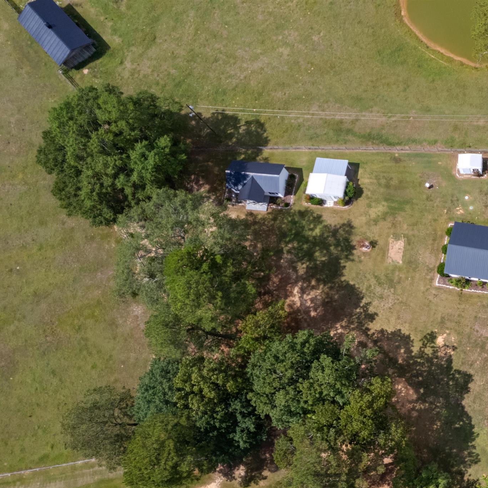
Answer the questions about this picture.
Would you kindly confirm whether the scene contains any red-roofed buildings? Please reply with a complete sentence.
No, the picture doesn't show any red-roofed building.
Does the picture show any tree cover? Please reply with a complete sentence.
Yes, the picture does contain tree cover.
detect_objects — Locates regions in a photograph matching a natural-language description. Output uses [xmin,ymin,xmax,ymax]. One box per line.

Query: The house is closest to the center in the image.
[225,160,289,214]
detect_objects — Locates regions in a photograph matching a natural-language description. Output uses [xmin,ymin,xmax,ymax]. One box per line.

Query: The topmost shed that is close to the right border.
[458,153,483,176]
